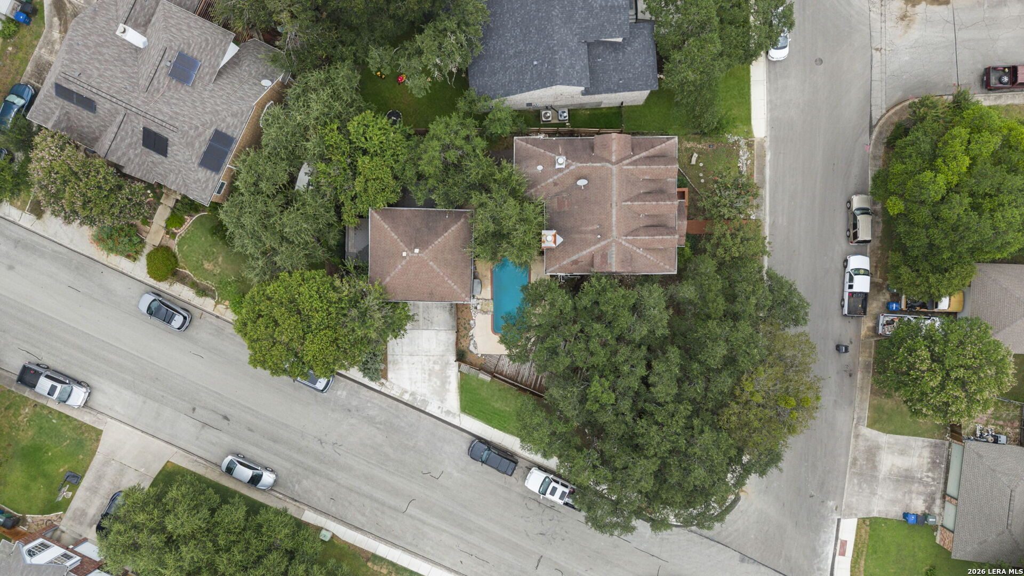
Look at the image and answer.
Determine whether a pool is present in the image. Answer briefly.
Yes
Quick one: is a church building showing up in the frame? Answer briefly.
No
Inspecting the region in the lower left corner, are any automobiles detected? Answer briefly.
Yes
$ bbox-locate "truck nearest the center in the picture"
[466,437,523,479]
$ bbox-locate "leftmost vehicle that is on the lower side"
[18,361,88,407]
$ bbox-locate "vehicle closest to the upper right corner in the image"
[980,64,1024,91]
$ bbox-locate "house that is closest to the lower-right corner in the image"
[936,441,1024,572]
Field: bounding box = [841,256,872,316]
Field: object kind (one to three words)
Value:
truck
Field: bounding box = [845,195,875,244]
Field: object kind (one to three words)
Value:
car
